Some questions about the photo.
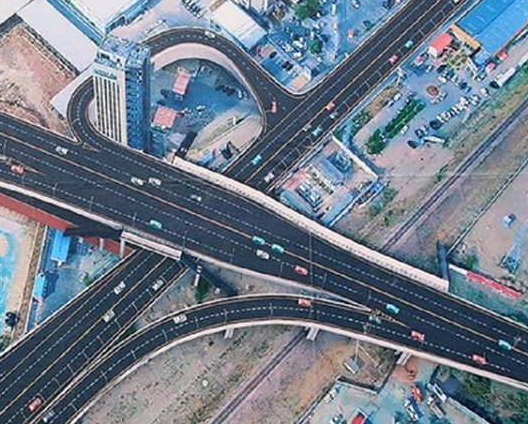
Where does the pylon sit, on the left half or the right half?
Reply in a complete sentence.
The pylon is on the right side of the image.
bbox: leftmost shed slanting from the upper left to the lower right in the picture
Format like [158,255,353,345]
[16,0,98,78]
